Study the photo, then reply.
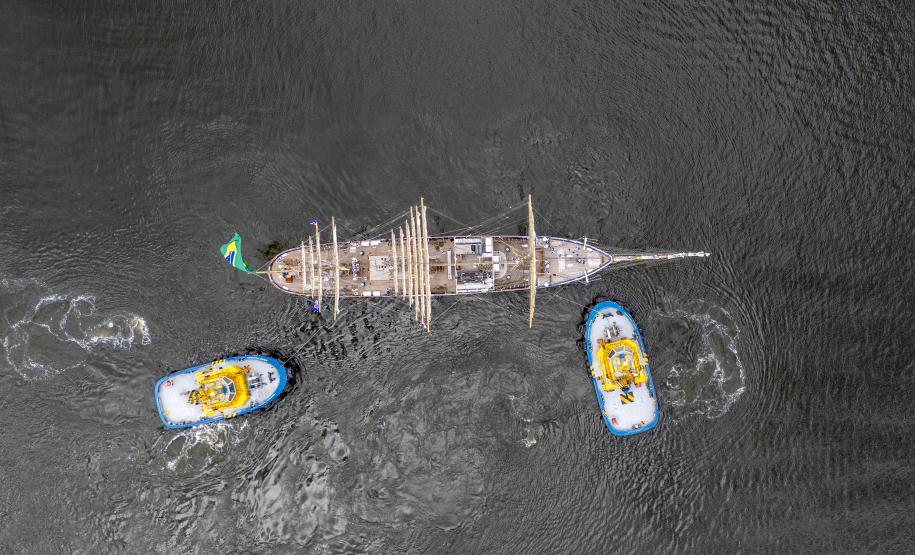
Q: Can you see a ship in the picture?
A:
Yes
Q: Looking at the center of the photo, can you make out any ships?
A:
Yes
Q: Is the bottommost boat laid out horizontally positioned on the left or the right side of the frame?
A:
left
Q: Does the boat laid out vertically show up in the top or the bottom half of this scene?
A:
bottom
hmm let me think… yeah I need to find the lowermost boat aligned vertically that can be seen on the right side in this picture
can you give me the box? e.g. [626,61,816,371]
[580,296,659,436]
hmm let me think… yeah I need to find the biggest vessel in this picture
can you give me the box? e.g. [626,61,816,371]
[256,195,710,332]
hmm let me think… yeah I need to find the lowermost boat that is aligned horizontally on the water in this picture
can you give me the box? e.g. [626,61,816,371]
[157,349,295,427]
